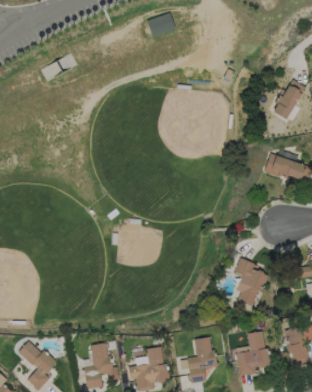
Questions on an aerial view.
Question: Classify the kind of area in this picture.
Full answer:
What you see here is a sports ground.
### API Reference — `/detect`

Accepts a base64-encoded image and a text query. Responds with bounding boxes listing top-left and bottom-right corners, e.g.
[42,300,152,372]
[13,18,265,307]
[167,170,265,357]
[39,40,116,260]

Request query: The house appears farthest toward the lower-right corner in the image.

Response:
[286,328,308,364]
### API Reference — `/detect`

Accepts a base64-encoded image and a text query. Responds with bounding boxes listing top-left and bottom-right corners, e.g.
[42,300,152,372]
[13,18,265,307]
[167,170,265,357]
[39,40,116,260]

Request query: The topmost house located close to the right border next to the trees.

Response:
[274,76,308,120]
